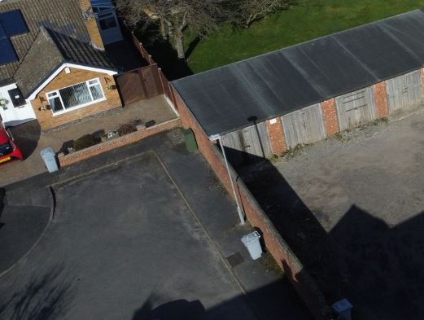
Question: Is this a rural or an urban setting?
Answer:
urban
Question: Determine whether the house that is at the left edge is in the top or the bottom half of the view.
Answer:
top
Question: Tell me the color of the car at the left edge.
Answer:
red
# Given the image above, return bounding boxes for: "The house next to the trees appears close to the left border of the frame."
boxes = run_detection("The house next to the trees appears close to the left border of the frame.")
[0,0,127,131]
